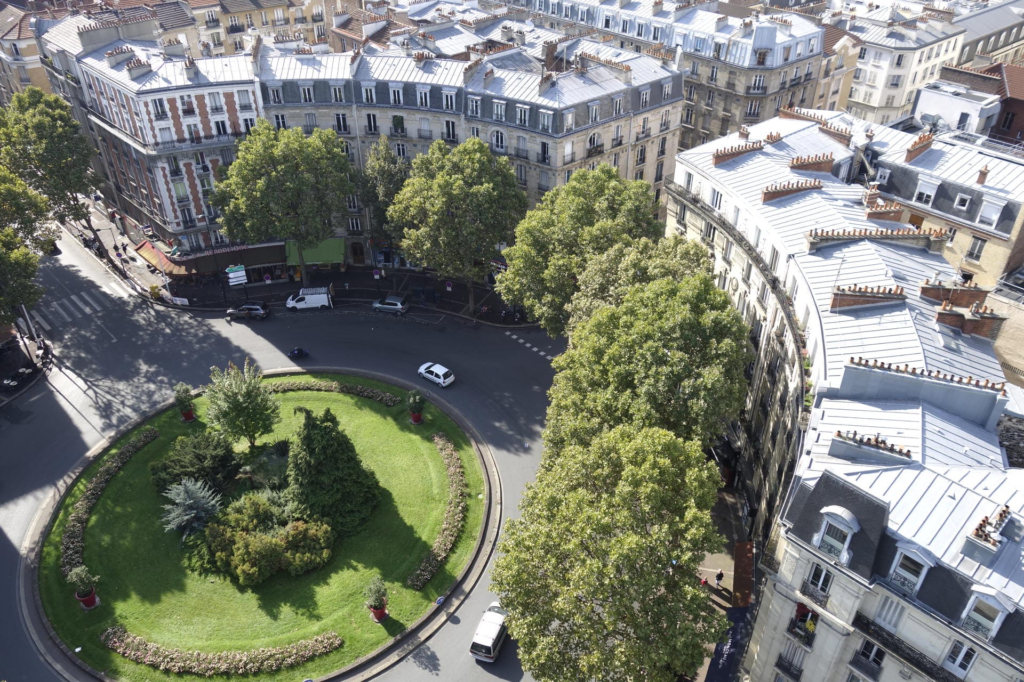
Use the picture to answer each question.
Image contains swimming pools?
No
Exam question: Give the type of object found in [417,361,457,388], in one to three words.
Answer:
car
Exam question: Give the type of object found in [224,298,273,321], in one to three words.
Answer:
car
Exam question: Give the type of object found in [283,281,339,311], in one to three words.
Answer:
vehicle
